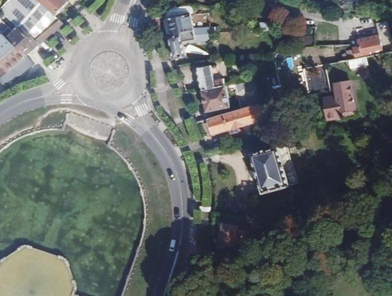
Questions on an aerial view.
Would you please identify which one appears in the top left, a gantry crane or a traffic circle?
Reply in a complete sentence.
You can see a traffic circle in the top left.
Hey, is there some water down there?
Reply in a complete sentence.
Yes, water can be seen from above here.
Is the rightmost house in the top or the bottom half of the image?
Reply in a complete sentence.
It is in the top half that the rightmost house appears.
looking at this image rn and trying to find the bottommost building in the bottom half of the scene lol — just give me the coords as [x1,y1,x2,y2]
[220,222,238,244]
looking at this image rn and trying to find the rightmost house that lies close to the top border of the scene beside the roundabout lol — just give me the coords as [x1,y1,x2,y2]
[166,7,210,61]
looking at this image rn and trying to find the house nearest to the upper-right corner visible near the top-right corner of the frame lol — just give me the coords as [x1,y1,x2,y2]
[352,34,383,58]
